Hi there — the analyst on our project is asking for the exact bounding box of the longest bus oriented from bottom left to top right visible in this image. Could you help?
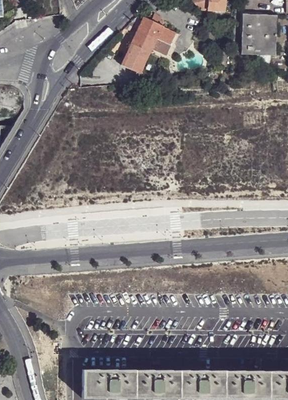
[88,28,113,52]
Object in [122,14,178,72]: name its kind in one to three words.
house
